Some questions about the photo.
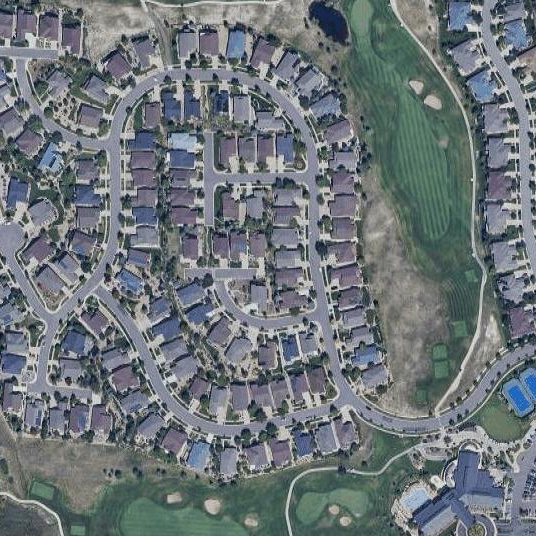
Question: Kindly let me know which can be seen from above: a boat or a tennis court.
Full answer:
Of the two, only a tennis court appears.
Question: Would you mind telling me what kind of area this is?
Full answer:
This image shows a residential area.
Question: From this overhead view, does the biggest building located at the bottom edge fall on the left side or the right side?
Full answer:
It is on the right.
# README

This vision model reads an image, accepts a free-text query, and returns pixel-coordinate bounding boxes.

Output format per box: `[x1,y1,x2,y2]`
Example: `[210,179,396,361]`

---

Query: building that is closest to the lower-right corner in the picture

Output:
[411,452,505,535]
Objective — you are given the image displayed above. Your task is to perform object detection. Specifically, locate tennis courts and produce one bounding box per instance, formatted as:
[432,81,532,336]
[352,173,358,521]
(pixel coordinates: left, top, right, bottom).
[503,380,533,417]
[519,368,536,404]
